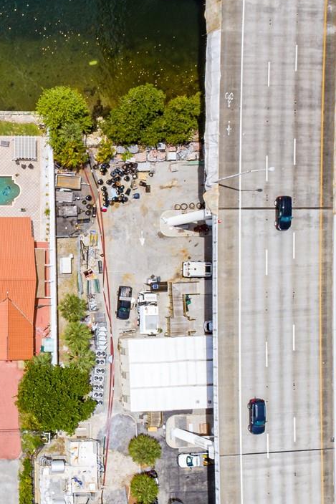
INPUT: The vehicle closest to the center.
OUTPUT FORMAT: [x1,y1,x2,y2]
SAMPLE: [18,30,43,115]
[178,262,213,278]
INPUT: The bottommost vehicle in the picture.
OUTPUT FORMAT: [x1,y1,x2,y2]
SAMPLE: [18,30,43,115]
[172,454,212,470]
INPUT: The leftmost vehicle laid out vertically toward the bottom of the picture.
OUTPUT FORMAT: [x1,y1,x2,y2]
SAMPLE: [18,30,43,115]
[114,284,132,321]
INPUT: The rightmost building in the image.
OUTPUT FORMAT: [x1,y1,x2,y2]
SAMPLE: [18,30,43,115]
[120,333,214,412]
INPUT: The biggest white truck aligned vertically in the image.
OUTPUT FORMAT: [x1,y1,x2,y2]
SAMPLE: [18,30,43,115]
[137,286,160,337]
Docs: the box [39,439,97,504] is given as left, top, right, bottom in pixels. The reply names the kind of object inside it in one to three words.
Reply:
building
